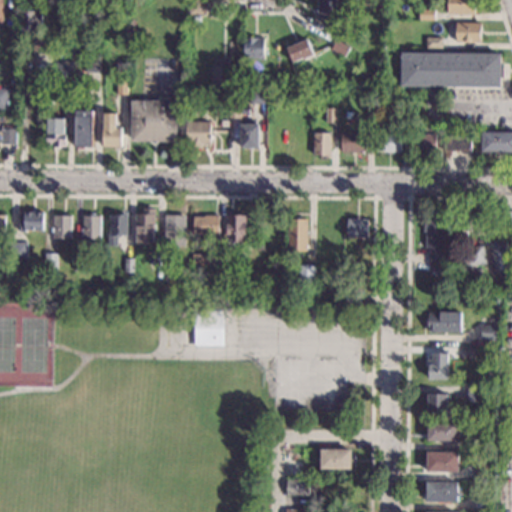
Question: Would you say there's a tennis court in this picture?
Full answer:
Yes, the frame does contain a tennis court.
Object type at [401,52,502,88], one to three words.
building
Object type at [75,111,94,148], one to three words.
house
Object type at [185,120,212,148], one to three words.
house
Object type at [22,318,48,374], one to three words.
tennis court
